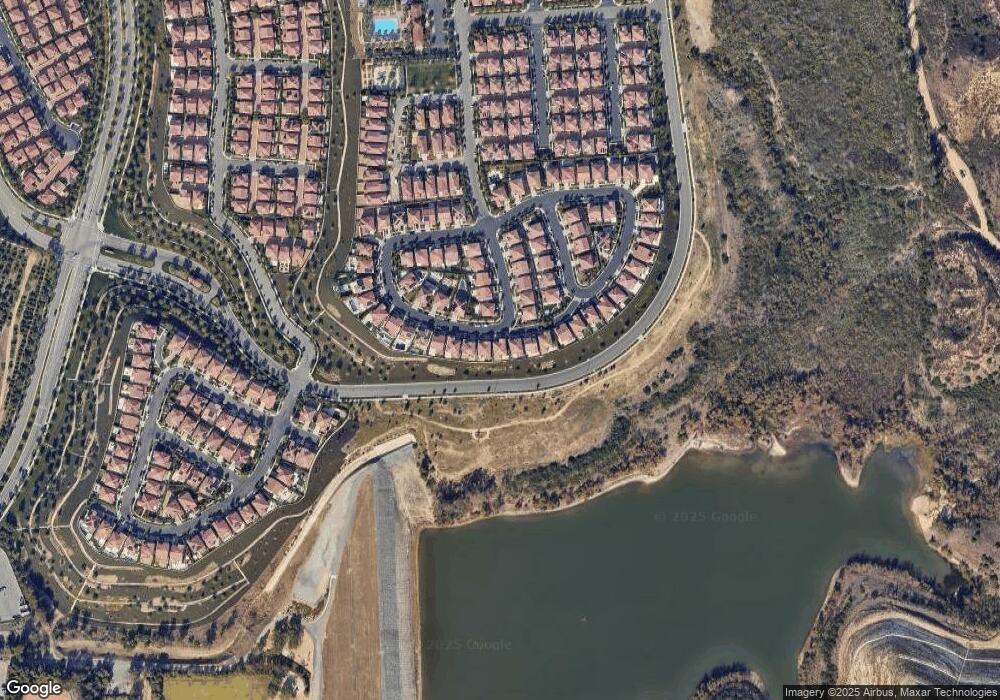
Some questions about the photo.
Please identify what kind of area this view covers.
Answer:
residential area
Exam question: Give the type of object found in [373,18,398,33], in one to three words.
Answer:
swimming pool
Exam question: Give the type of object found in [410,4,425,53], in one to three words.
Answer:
building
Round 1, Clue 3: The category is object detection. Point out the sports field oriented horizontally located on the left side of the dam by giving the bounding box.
[164,673,263,700]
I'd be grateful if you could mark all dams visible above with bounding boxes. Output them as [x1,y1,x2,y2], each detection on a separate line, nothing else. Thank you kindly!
[323,456,417,700]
